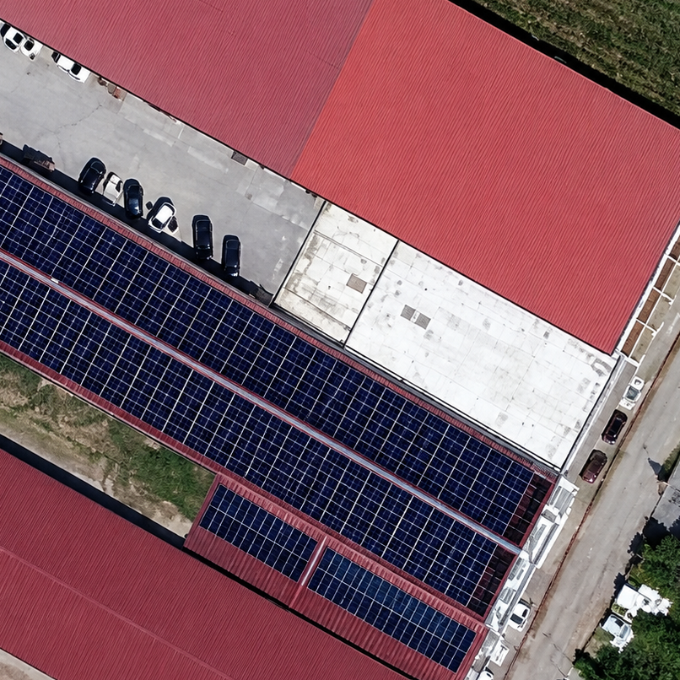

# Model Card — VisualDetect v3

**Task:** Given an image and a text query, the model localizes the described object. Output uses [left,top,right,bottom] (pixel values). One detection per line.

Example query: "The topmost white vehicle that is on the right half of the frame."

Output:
[620,374,646,413]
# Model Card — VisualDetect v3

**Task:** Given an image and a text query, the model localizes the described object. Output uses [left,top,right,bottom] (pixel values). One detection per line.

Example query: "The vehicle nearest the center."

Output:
[222,235,241,279]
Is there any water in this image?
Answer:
No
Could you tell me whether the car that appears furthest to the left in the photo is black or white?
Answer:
white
